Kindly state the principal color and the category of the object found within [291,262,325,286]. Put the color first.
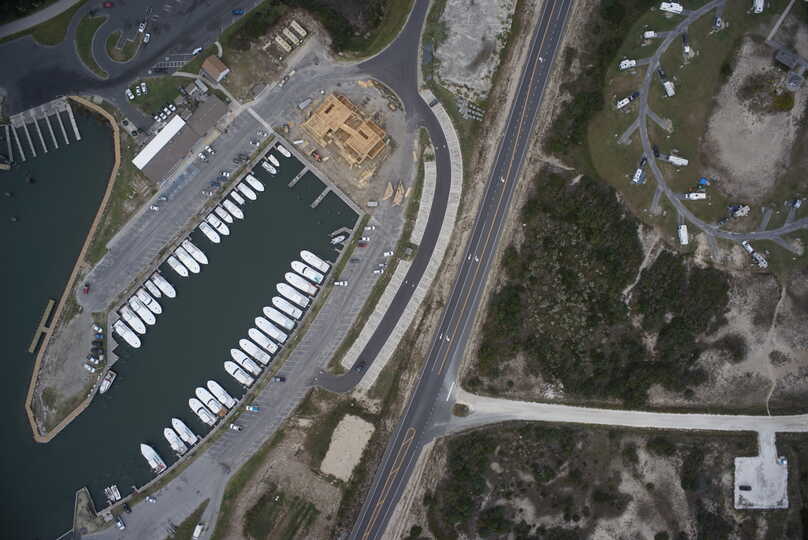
white boat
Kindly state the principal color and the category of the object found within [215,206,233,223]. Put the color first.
white boat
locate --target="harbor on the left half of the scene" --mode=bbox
[56,139,363,540]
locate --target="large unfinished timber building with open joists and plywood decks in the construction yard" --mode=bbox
[300,91,385,161]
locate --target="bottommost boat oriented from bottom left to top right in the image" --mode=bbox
[99,369,117,394]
